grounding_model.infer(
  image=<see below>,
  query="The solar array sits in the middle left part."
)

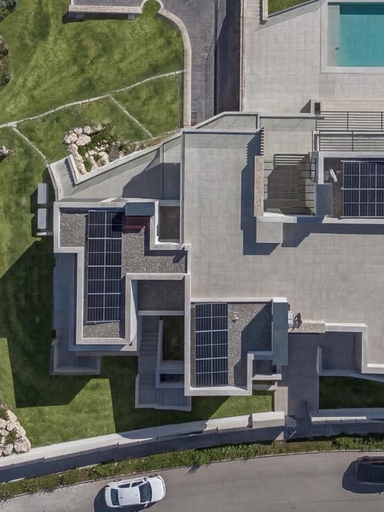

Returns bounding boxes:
[86,208,124,323]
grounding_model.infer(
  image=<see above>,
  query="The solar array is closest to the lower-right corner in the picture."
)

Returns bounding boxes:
[194,302,230,386]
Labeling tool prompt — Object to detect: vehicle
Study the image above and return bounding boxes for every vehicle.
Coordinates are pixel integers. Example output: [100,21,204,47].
[354,452,384,484]
[104,472,167,507]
